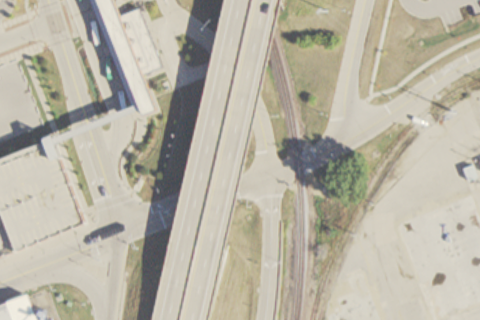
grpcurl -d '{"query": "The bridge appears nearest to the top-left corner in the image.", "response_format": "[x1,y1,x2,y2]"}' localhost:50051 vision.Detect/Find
[54,107,138,144]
